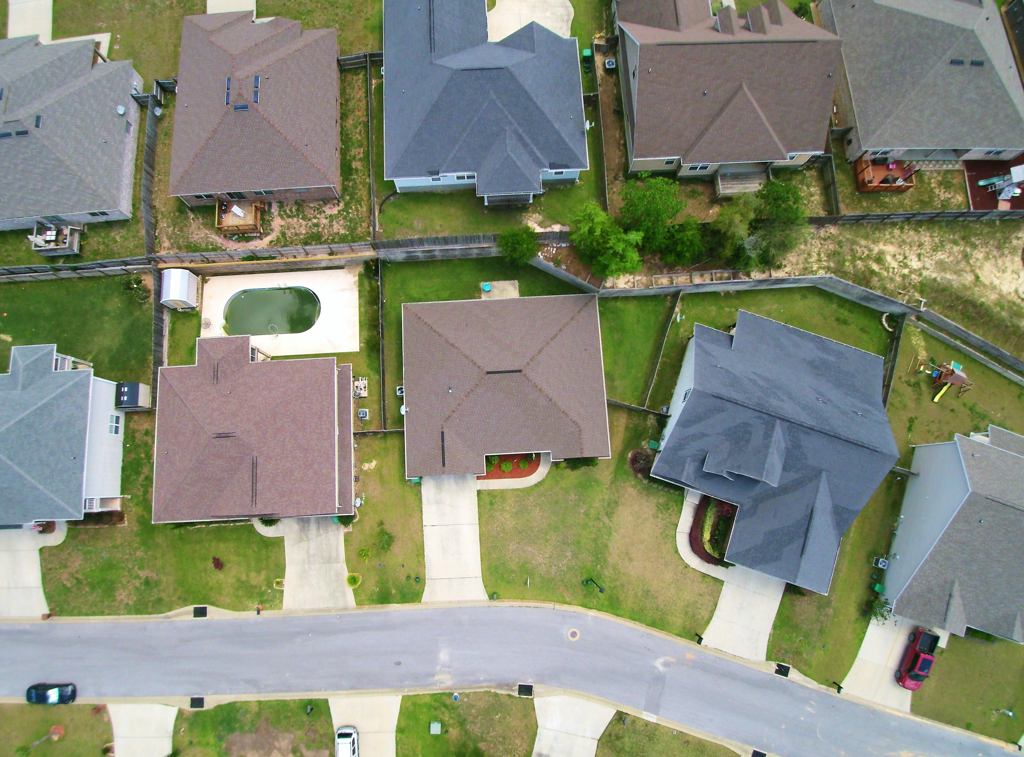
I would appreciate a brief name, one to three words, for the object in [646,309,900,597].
house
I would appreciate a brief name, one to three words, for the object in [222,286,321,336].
swimming pool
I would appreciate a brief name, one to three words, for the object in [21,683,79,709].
car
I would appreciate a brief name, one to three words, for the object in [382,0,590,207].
house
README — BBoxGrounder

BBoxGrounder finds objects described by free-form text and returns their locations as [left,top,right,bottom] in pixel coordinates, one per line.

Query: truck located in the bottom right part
[896,622,943,694]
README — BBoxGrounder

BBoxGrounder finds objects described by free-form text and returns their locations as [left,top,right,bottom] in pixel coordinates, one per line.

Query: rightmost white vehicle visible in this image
[333,724,357,757]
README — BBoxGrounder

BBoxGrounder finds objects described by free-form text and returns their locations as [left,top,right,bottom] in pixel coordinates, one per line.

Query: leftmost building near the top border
[0,33,145,234]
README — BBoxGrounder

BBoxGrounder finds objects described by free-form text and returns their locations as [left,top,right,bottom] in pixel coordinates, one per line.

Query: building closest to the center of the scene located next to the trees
[401,293,611,480]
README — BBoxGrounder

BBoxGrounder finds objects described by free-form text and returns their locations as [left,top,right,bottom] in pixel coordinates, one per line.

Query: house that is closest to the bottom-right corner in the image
[875,424,1024,645]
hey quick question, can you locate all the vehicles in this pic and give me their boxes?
[896,622,943,694]
[333,724,357,757]
[21,683,79,709]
